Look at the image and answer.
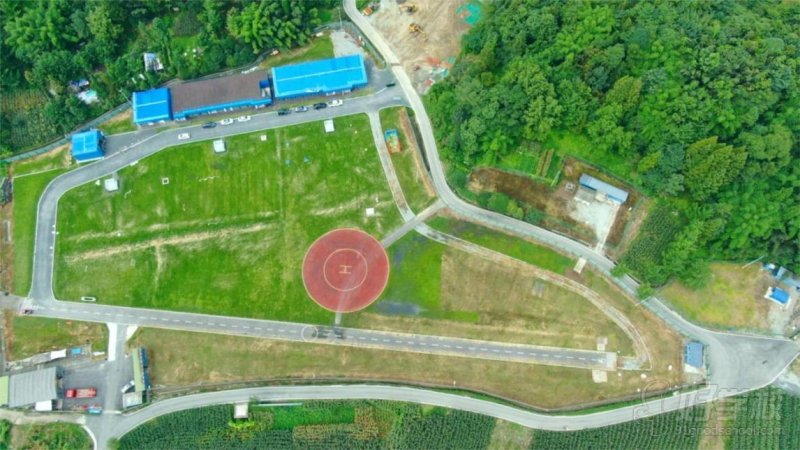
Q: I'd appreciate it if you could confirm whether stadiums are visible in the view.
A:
No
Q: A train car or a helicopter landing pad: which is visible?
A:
helicopter landing pad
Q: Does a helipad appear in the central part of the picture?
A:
Yes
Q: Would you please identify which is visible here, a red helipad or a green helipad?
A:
red helipad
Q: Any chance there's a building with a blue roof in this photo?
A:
Yes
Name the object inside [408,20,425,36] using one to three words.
work vehicle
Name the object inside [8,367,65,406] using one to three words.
building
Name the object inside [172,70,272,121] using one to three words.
building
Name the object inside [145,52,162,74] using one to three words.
house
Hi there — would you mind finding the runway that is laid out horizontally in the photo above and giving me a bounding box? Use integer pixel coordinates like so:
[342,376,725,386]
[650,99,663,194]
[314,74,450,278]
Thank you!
[22,297,616,383]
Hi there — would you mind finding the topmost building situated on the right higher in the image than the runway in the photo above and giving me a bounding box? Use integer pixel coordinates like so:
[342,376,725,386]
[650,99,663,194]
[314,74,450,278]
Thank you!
[574,173,627,209]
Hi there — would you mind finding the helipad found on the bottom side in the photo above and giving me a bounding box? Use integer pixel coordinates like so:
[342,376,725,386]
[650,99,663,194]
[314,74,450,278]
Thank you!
[302,230,389,313]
